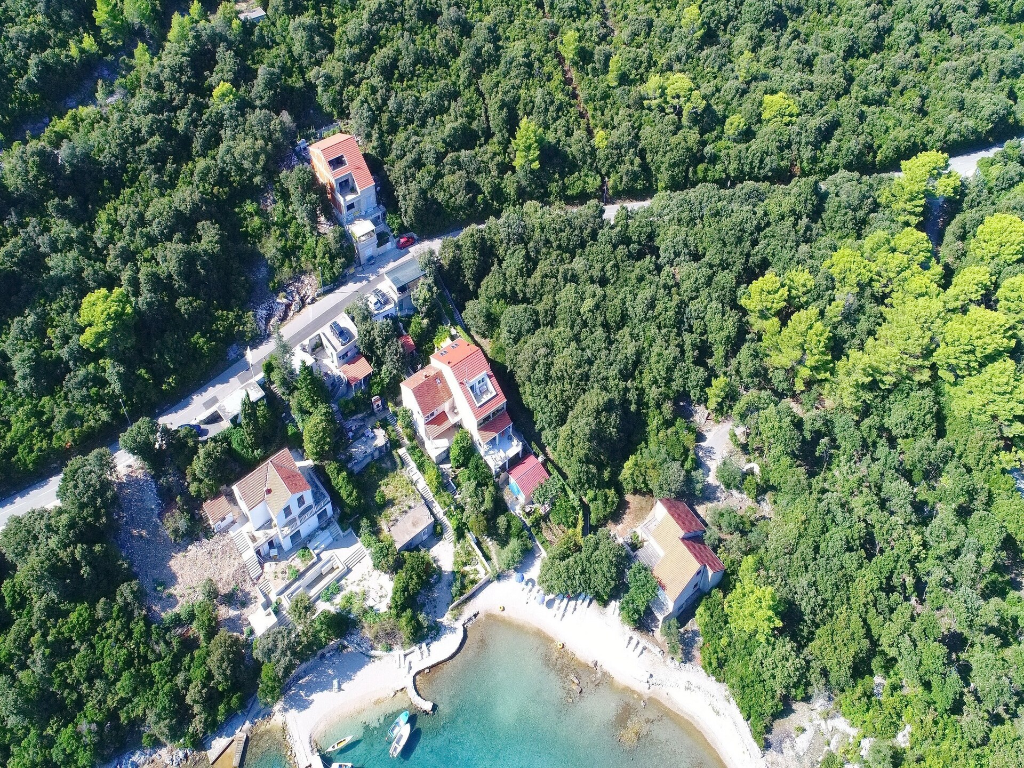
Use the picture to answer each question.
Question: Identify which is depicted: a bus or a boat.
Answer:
boat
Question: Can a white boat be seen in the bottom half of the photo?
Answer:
Yes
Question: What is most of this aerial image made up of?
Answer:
trees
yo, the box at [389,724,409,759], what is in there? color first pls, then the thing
white boat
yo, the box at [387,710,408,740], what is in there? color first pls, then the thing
white boat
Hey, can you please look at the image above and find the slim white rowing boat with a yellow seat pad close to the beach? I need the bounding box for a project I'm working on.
[326,734,353,753]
